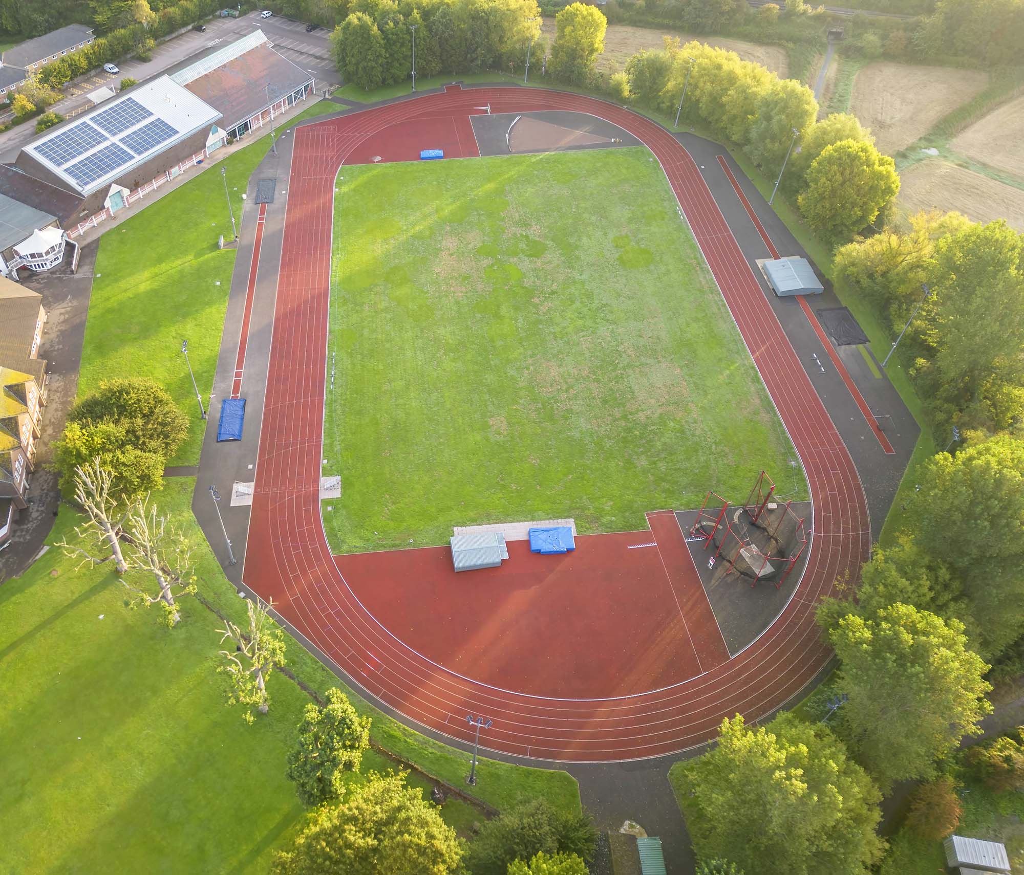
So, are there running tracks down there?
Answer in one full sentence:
Yes, there's a running track down there.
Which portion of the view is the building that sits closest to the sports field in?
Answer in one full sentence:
Look in the top left portion of the view to spot the building that sits closest to the sports field.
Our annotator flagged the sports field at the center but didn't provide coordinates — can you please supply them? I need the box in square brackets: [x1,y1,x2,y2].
[320,146,811,553]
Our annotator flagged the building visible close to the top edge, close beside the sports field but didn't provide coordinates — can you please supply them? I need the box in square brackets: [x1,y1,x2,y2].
[0,32,319,239]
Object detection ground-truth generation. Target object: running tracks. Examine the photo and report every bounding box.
[241,84,871,763]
